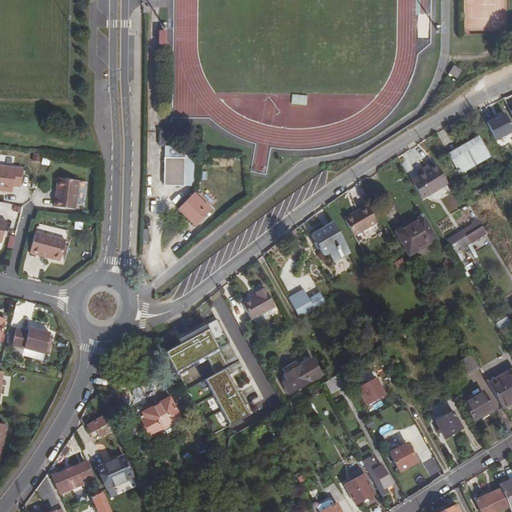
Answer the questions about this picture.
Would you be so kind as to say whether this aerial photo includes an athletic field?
Yes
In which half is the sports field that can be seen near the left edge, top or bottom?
top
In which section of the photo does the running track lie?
top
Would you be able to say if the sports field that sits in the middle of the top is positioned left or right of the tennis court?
left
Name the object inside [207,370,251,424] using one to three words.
building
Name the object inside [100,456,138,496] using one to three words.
house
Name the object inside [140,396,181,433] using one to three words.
house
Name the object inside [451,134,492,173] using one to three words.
barn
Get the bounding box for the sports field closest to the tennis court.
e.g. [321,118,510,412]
[198,0,398,92]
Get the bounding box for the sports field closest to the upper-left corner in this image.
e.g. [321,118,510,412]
[0,0,68,98]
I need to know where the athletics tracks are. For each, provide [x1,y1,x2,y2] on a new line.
[174,0,430,173]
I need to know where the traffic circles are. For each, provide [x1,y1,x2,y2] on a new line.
[36,256,172,355]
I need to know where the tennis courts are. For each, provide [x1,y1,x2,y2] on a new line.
[464,0,507,32]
